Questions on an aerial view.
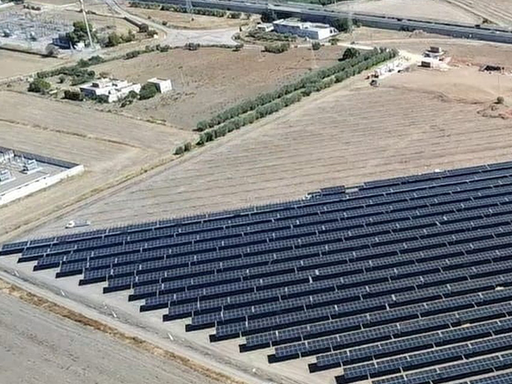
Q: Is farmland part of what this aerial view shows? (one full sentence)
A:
Yes, farmland shows up in the scene.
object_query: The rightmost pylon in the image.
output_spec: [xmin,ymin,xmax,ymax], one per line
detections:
[342,4,355,32]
